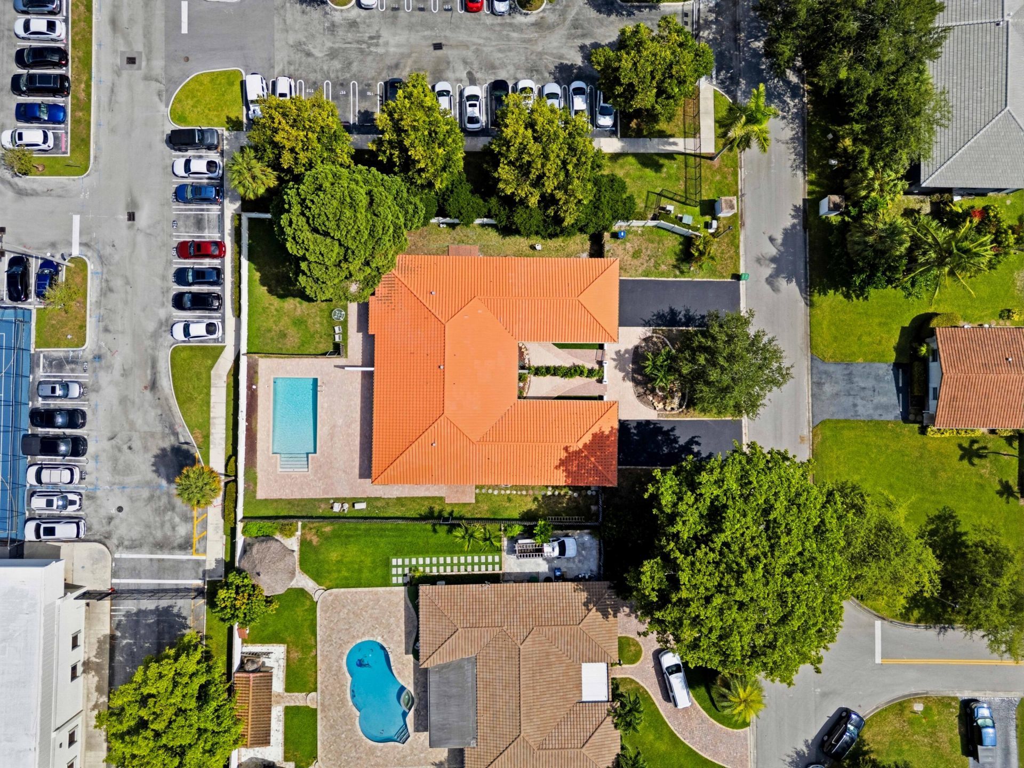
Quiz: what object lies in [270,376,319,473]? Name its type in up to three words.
swimming pool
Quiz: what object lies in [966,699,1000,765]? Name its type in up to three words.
truck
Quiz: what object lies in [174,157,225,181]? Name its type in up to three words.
car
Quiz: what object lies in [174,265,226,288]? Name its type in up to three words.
car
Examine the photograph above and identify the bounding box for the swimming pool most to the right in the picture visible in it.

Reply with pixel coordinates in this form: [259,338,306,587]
[344,638,416,745]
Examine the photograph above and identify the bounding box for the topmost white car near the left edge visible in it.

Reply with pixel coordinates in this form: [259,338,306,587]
[17,19,70,46]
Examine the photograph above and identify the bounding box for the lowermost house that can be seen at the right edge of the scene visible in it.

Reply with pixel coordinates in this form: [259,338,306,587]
[921,327,1024,430]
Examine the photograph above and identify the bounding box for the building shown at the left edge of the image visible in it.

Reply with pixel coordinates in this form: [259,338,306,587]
[0,559,88,768]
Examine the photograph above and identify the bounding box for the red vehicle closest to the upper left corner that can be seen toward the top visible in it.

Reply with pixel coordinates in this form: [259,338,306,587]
[178,238,229,261]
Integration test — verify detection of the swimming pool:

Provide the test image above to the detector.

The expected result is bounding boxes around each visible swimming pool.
[344,638,416,745]
[270,376,319,473]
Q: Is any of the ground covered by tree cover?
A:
Yes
